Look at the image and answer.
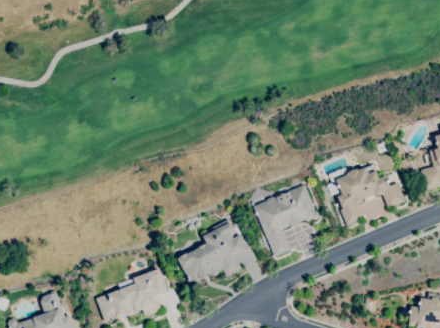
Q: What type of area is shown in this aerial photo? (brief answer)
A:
golf course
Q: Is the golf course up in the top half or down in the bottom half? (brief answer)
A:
top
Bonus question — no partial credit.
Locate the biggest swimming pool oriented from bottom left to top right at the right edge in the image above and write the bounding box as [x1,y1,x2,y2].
[408,124,428,150]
